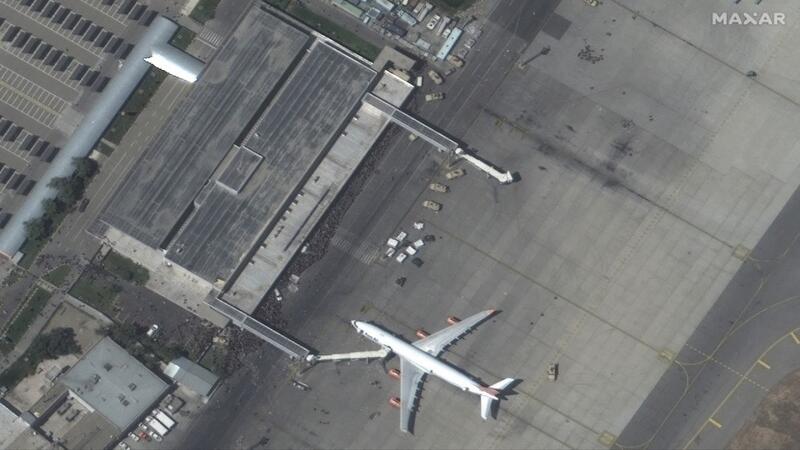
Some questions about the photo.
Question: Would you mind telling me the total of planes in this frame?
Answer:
1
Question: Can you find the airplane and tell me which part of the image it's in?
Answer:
bottom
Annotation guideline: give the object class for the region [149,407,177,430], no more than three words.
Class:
truck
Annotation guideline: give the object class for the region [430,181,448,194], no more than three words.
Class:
vehicle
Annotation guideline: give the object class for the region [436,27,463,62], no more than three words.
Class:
shed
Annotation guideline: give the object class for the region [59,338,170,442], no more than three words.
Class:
building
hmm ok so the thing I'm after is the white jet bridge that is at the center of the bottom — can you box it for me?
[301,345,395,376]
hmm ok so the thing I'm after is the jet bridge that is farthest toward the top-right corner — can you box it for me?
[447,147,515,185]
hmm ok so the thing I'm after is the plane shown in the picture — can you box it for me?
[352,308,513,437]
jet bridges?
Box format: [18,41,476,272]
[447,147,515,185]
[301,345,395,376]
